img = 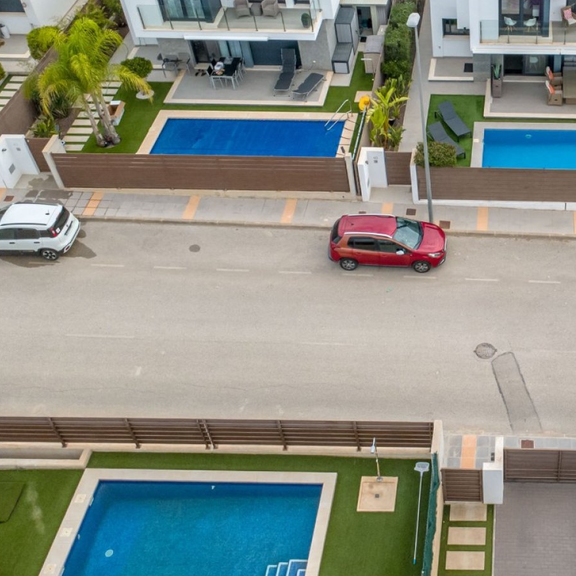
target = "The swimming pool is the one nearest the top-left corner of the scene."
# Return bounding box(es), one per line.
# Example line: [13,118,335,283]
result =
[136,111,357,166]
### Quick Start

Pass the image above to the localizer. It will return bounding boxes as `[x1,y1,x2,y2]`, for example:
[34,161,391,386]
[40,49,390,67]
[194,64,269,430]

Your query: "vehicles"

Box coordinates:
[324,213,448,275]
[0,200,81,261]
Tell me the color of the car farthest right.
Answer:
red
